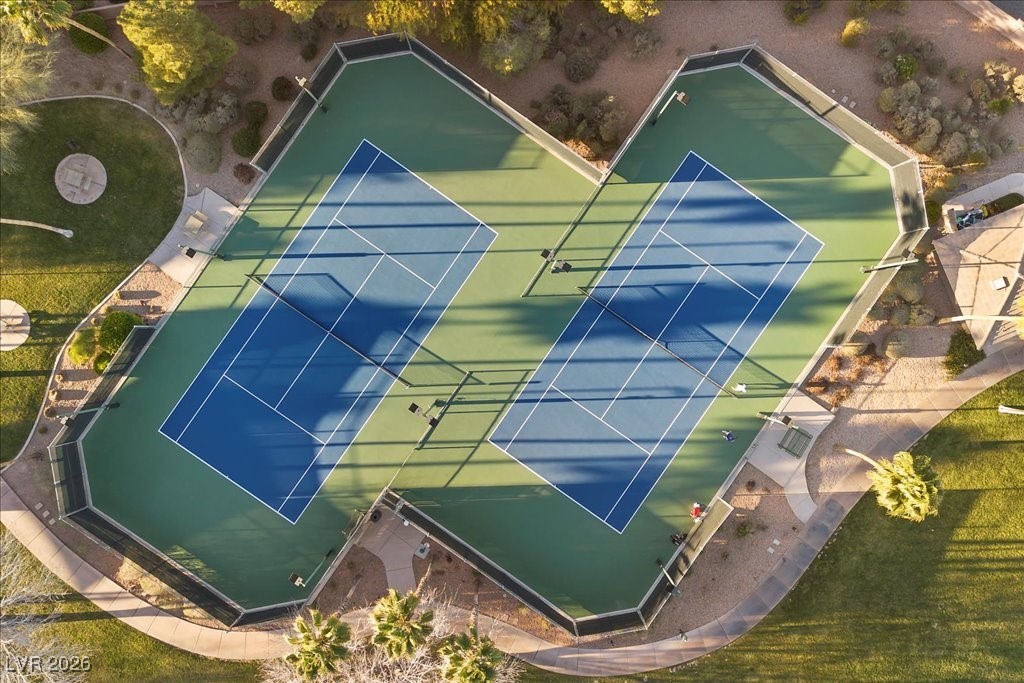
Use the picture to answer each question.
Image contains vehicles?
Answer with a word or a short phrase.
No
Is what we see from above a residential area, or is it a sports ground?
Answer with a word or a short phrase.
sports ground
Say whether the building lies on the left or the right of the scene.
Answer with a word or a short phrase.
right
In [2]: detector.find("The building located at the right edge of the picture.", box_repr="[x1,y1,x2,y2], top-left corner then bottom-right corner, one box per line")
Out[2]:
[919,197,1024,350]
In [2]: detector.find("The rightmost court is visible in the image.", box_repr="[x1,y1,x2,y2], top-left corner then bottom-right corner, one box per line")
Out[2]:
[391,70,894,616]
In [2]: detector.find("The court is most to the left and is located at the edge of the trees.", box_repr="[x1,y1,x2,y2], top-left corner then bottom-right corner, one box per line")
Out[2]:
[84,56,598,606]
